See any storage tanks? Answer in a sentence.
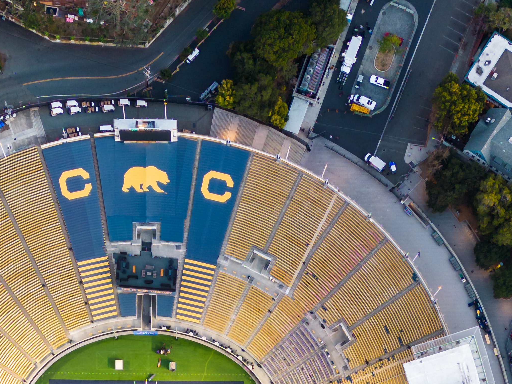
No, no storage tank is visible in the scene.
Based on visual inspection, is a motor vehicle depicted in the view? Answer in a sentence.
Yes, a motor vehicle can be made out from above.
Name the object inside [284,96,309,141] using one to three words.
shed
